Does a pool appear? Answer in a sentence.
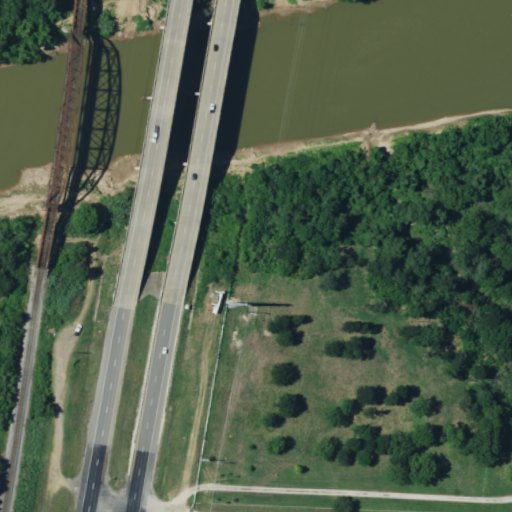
No, the scene contains no pool.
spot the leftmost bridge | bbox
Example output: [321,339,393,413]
[36,0,88,280]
